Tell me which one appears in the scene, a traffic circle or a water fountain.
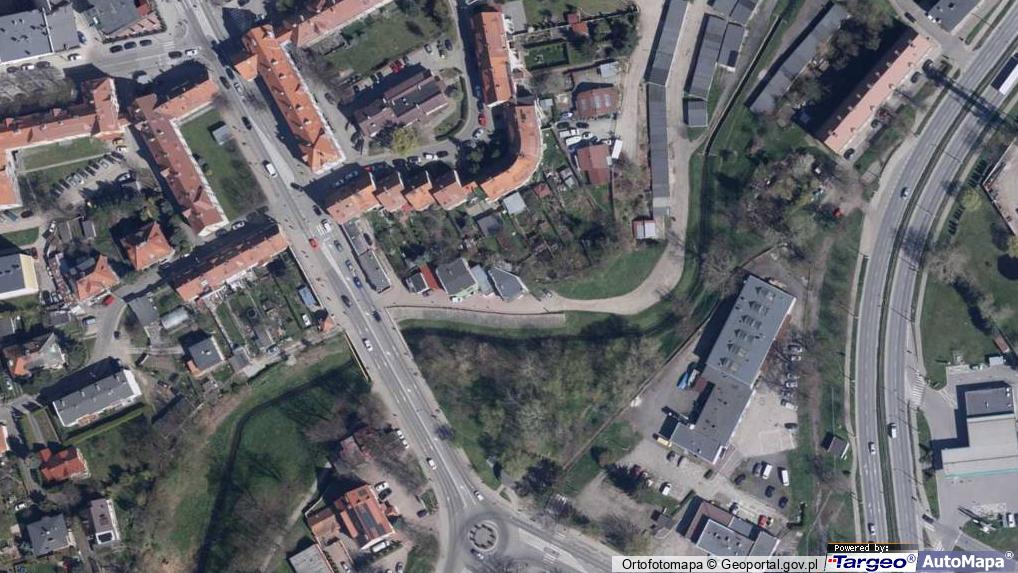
traffic circle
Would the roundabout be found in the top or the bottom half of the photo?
bottom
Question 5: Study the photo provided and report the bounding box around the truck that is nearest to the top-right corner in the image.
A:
[996,62,1018,92]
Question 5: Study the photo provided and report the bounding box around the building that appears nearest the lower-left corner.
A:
[27,515,76,555]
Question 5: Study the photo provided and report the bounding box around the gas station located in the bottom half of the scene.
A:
[941,388,1018,478]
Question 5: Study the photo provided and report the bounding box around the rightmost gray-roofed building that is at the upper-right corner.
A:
[929,0,985,35]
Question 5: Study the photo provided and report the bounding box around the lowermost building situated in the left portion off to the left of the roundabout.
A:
[289,544,334,573]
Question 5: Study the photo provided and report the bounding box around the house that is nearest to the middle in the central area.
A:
[489,267,529,302]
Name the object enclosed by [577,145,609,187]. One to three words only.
building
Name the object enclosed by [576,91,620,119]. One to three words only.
building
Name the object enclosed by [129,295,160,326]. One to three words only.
shed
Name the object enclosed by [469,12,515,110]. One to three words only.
house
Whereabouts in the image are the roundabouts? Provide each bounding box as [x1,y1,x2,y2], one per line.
[451,505,514,568]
